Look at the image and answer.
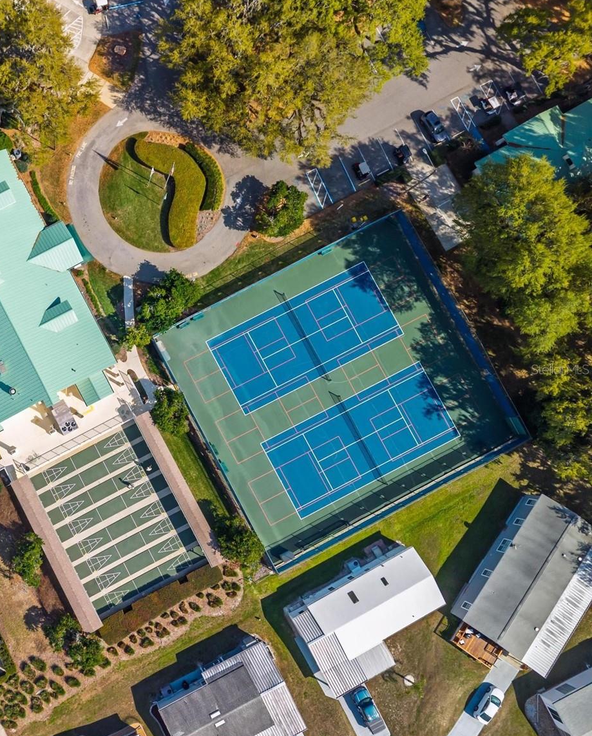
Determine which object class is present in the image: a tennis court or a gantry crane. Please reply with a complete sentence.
Looking from above, you can make out a tennis court.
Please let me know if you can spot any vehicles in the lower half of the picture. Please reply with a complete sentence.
Yes, a vehicle can be seen in the lower half of the picture.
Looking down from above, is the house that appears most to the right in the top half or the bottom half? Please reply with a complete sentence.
The house that appears most to the right is in the bottom half of the image.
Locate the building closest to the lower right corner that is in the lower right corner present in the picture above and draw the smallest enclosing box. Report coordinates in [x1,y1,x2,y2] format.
[541,667,592,736]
